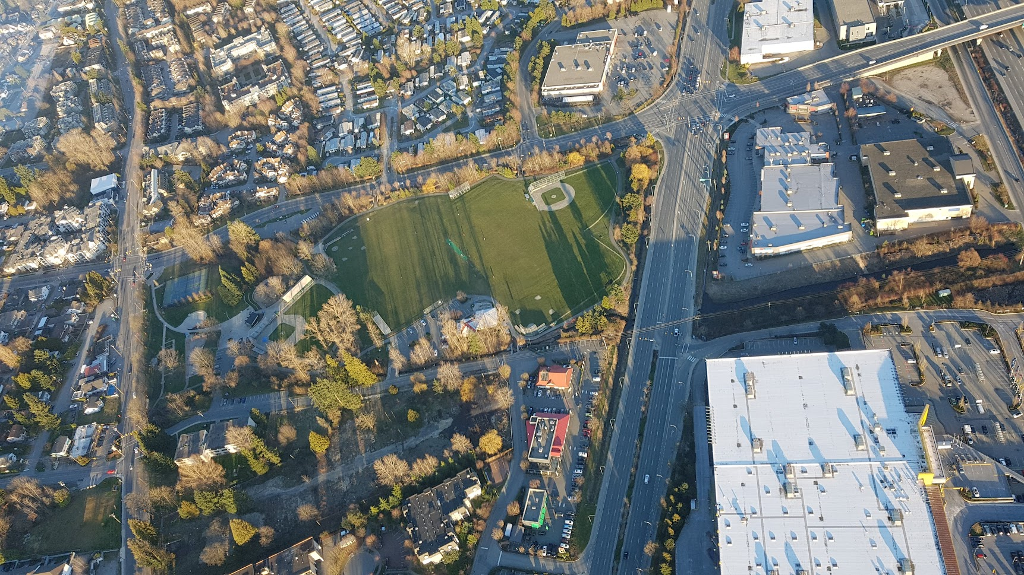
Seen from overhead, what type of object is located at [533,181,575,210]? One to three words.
baseball field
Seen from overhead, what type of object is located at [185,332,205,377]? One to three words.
sports court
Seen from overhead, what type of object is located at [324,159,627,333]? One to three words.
soccer field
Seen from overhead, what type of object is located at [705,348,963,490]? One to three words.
warehouse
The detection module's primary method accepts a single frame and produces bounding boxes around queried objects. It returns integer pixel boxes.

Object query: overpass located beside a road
[814,3,1024,83]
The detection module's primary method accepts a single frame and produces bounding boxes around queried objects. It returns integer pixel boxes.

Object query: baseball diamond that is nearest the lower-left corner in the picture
[257,284,332,345]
